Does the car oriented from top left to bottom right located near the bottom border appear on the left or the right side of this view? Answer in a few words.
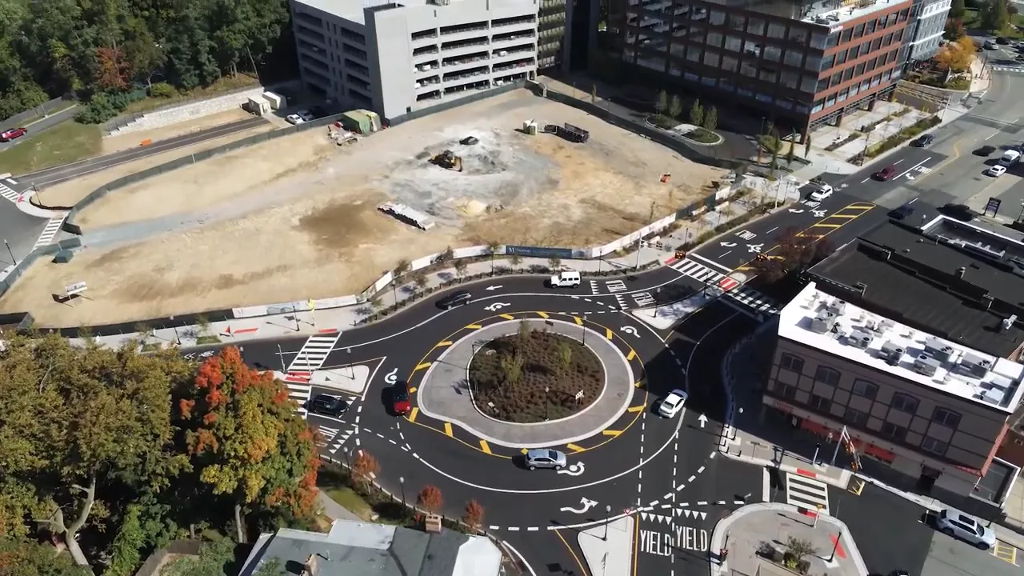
right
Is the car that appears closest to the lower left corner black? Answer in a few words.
Yes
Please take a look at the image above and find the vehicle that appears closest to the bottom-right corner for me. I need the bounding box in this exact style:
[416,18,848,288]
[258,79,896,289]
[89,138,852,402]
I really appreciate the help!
[940,507,1000,550]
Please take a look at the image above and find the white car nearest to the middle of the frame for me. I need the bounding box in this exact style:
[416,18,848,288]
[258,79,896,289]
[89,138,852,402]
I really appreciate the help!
[551,270,581,287]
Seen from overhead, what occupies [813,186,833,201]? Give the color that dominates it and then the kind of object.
white car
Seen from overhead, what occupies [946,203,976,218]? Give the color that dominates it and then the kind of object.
black car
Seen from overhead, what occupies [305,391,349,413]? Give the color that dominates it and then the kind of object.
black car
